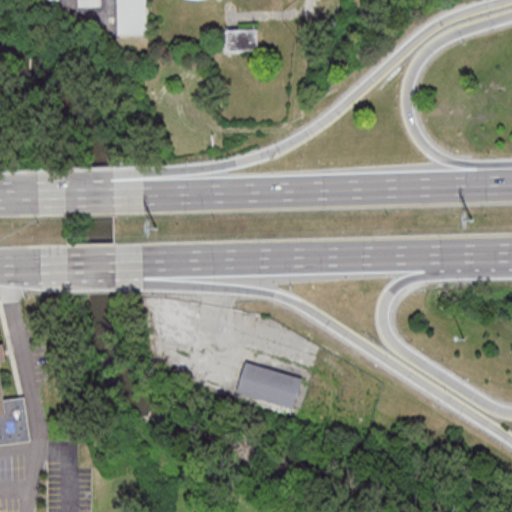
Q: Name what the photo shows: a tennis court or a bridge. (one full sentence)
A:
Of the two, only a bridge appears.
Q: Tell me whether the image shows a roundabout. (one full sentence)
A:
No, the scene contains no roundabout.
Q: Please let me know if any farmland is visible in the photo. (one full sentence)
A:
No, the picture contains no farmland.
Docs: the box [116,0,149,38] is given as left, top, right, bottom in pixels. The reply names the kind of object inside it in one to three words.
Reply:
building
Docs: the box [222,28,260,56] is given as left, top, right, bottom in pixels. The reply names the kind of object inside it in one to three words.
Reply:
house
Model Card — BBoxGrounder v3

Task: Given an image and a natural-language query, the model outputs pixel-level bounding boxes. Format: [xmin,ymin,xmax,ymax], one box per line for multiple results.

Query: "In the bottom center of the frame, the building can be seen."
[237,360,304,410]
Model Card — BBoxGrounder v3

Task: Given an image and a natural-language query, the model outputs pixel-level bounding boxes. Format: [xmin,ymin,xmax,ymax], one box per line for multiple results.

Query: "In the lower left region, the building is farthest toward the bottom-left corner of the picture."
[0,398,32,443]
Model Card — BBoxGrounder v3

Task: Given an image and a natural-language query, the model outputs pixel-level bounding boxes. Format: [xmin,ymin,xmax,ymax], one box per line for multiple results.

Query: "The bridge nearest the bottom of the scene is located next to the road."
[67,242,116,294]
